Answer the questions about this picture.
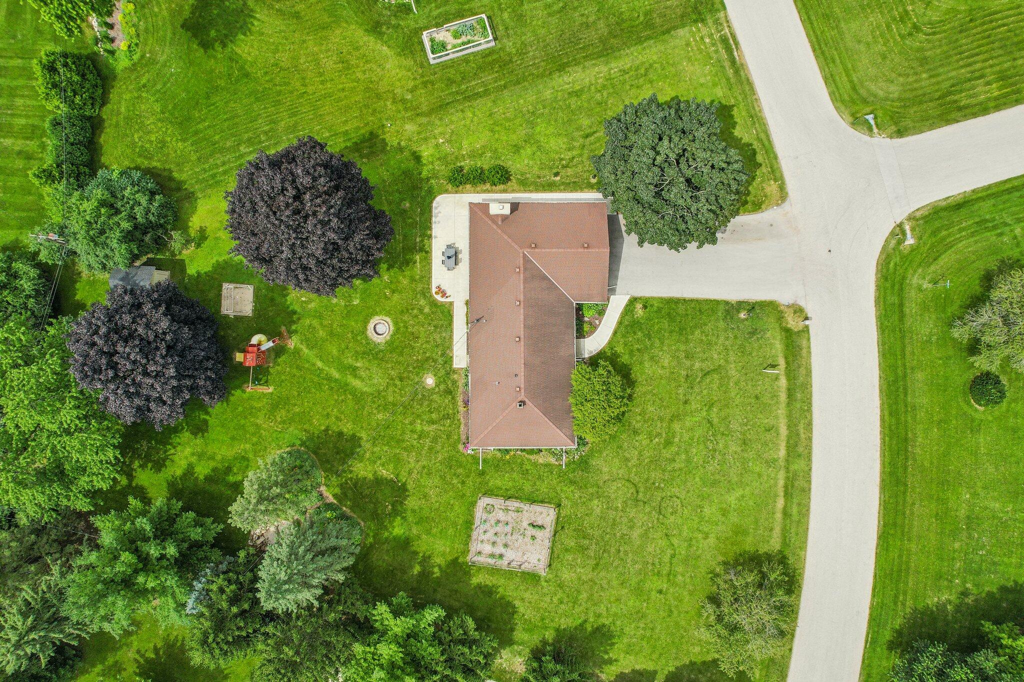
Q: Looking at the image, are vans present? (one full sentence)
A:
No, there isn't any van down there.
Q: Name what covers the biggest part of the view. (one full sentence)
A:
Most of the picture is covered by grass.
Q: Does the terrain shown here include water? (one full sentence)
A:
No, water can't be seen anywhere here.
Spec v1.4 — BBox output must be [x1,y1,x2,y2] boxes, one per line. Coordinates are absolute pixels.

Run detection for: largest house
[467,201,618,468]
